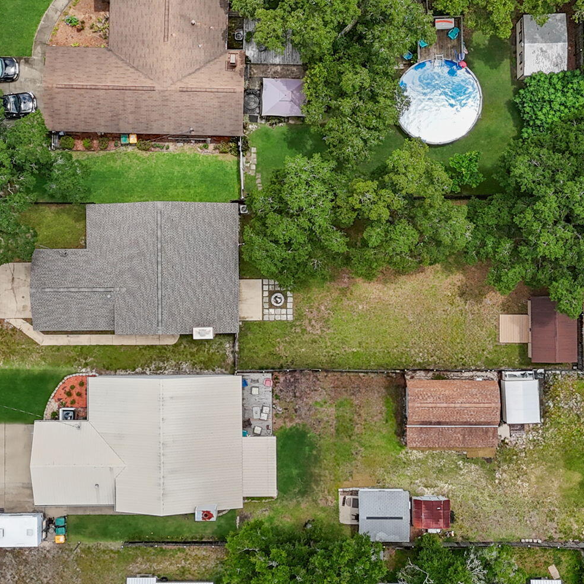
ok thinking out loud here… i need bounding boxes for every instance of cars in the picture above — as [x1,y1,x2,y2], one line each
[0,58,19,82]
[0,90,37,116]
